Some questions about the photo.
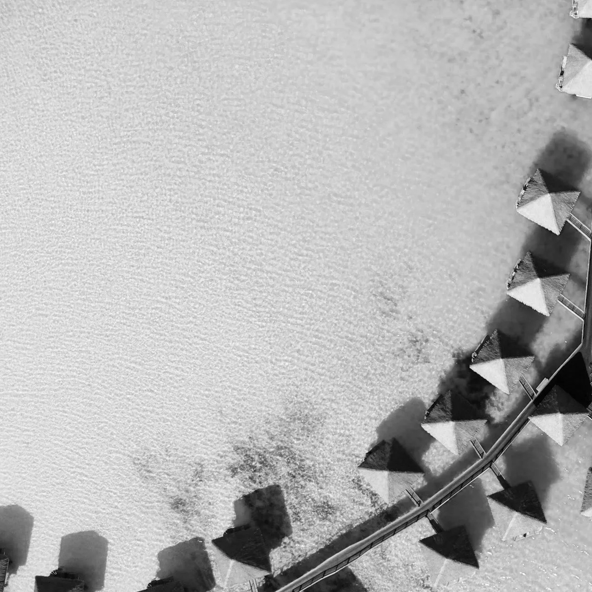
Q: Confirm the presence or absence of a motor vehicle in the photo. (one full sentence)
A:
No, I can see no motor vehicle in this picture.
